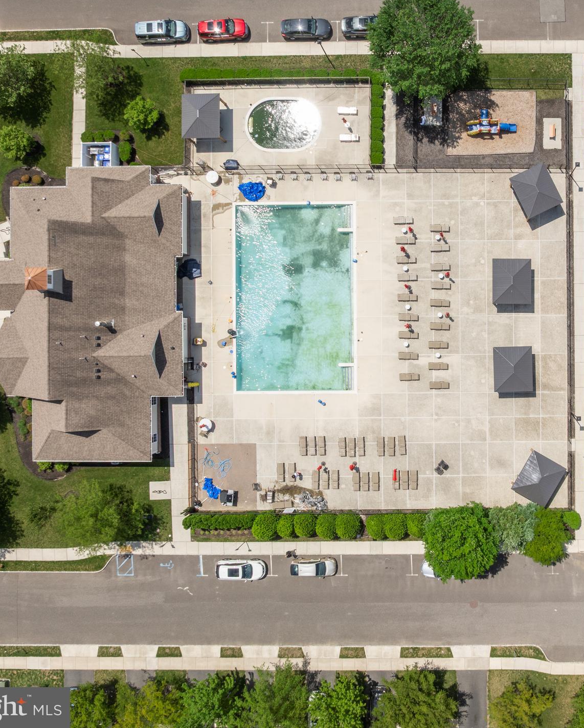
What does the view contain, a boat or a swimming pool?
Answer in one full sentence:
It is a swimming pool that can be seen here.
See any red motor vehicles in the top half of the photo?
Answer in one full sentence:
Yes, there is a red motor vehicle in the top half of the photo.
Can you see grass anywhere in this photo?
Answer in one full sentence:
Yes, there is grass in the image.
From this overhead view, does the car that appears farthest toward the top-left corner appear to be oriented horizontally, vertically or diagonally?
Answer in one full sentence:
The car that appears farthest toward the top-left corner is oriented horizontally.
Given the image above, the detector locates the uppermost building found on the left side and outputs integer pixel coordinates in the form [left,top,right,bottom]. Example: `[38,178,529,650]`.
[181,93,226,143]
